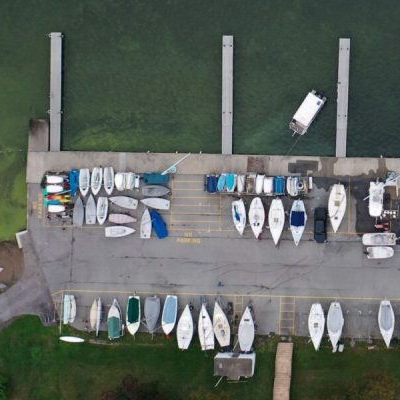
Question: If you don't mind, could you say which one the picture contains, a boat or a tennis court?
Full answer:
There is a boat in the scene.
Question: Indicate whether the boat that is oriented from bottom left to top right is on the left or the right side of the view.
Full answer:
The boat that is oriented from bottom left to top right appears in the right half of the scene.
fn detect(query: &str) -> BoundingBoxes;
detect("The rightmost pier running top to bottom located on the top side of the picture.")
[336,38,350,156]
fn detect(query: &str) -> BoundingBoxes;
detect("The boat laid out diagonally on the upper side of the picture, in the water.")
[290,89,328,143]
